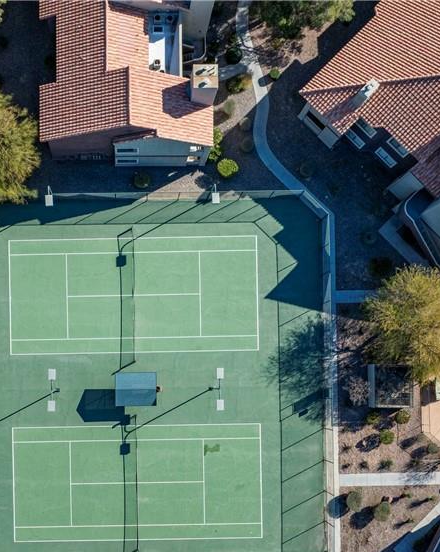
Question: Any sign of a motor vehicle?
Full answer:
No, no motor vehicle is visible in the scene.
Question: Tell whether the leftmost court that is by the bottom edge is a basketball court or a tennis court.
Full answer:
I'd say the leftmost court that is by the bottom edge is a tennis court.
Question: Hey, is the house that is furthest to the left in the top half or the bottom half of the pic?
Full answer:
The top half of the photo is where the house that is furthest to the left is.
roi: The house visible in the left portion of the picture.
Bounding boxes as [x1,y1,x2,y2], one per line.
[38,0,219,166]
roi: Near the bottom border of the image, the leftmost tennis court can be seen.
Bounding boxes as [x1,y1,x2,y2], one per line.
[12,424,263,543]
